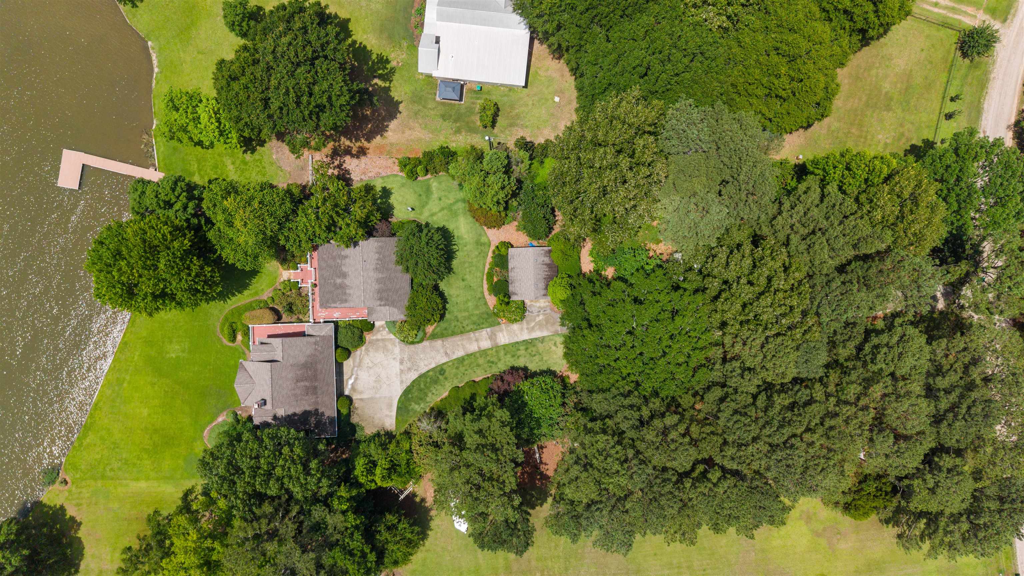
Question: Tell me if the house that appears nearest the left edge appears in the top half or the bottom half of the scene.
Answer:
bottom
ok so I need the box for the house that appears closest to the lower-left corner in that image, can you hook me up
[234,323,342,438]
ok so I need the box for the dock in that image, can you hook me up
[57,149,163,190]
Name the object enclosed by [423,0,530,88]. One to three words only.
building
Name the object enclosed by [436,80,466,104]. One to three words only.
gazebo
